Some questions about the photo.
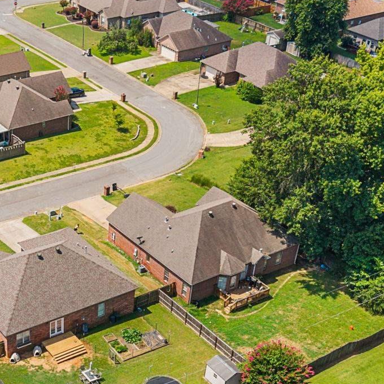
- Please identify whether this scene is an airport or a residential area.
residential area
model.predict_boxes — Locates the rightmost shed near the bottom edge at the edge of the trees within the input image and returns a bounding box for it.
[203,351,246,384]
